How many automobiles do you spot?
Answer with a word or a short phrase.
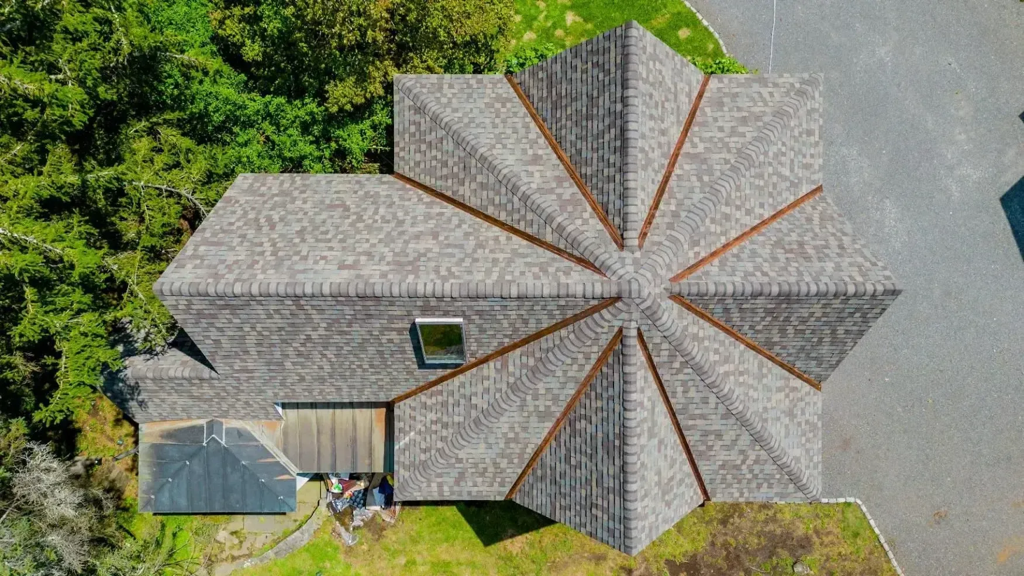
0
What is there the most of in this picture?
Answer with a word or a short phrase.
buildings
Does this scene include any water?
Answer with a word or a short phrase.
No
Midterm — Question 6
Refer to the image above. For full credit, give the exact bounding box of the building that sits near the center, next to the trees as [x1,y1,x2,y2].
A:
[94,20,903,556]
